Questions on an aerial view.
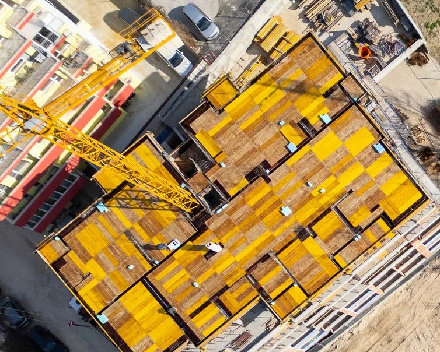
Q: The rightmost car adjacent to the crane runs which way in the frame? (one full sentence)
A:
Seen from above, the rightmost car adjacent to the crane lies on a diagonal.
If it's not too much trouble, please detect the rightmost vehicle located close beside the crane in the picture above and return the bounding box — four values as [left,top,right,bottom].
[182,1,219,40]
